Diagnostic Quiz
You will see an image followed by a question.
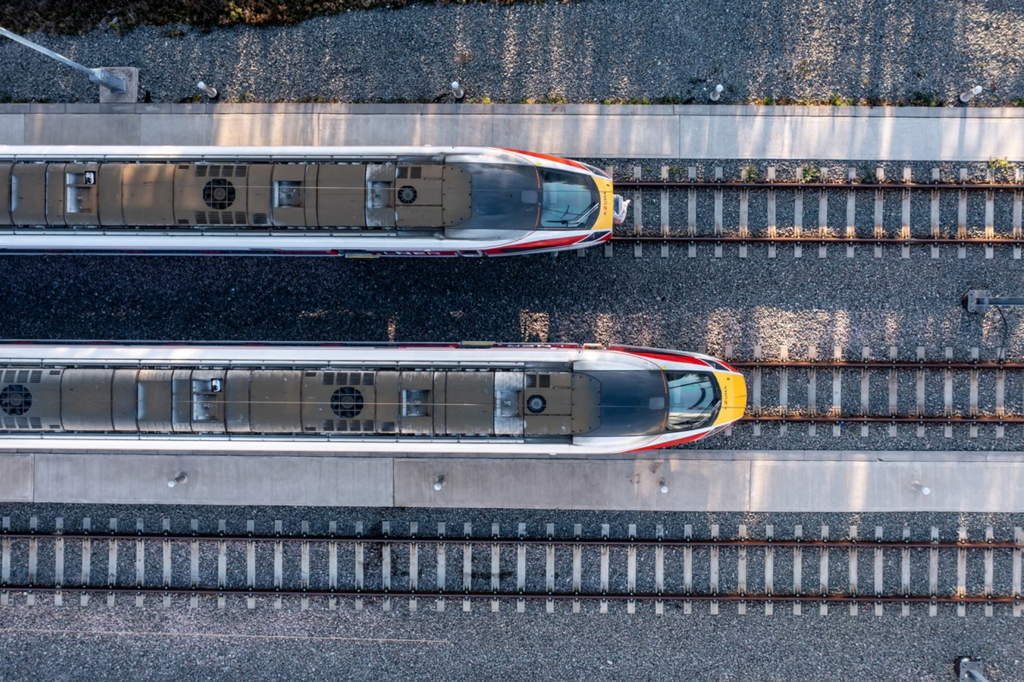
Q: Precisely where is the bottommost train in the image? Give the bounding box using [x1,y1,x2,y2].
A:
[0,339,748,452]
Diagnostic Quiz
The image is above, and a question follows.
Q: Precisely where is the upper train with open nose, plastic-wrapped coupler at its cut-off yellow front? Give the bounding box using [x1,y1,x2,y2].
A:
[0,146,634,259]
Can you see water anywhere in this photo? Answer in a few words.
No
